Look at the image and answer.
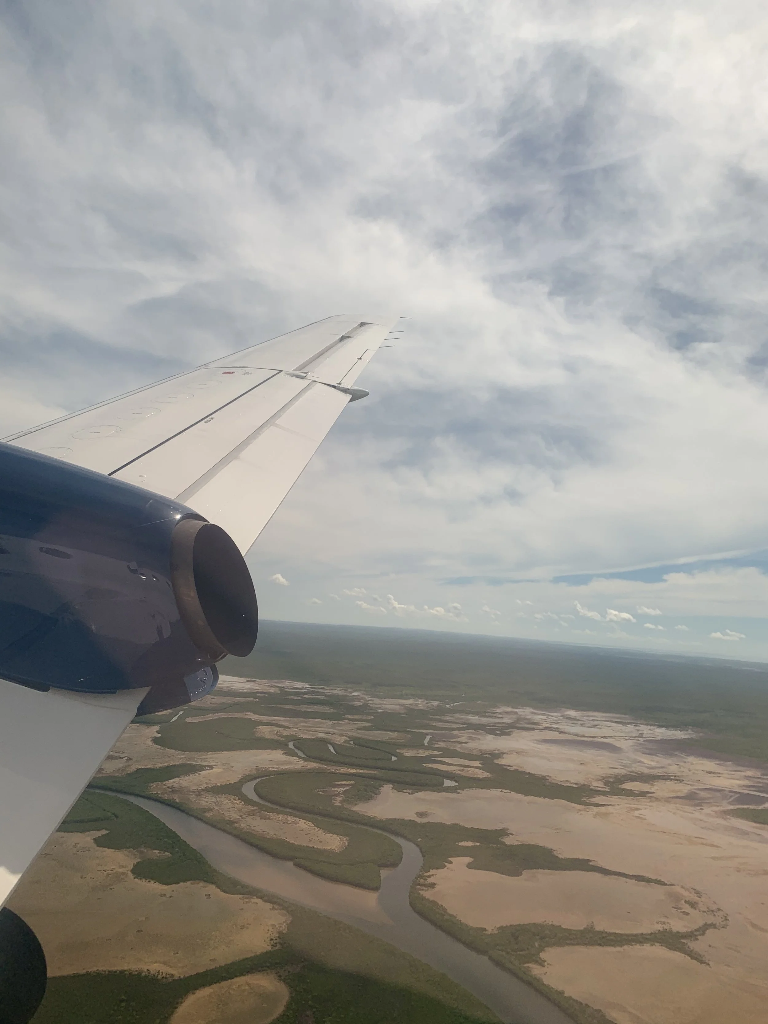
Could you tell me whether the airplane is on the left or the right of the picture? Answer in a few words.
left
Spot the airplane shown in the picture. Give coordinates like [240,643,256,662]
[0,314,408,1024]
